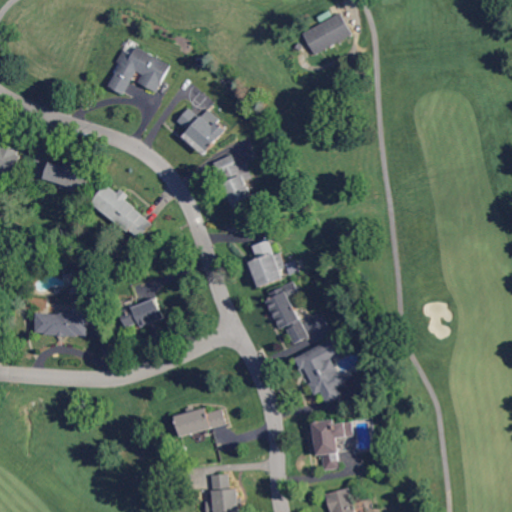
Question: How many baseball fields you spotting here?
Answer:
0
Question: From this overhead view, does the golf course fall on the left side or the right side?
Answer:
right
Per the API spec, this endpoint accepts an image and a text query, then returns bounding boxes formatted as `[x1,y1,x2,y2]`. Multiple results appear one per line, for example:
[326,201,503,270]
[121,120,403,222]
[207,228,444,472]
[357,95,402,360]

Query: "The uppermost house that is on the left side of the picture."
[108,48,170,94]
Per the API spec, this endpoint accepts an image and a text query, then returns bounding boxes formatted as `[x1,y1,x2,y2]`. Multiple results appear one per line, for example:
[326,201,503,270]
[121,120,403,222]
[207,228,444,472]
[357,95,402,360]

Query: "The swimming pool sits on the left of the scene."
[34,278,64,291]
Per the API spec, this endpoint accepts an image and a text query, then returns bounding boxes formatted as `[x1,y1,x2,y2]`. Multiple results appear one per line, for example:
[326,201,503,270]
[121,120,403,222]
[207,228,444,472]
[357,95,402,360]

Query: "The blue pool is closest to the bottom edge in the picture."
[355,423,370,450]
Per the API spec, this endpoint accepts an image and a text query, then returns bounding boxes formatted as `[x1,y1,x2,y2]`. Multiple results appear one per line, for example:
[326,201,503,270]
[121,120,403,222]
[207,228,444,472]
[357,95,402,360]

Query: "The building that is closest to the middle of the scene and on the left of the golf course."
[248,238,286,287]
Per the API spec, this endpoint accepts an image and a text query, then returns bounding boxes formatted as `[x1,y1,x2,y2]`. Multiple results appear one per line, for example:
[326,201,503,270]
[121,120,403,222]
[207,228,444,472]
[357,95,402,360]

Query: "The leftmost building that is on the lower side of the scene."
[33,313,88,337]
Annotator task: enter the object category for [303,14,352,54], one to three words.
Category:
building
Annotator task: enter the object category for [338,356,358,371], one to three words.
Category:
swimming pool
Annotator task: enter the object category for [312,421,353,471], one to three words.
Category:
house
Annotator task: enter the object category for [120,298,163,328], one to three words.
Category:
house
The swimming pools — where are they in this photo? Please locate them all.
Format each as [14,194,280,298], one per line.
[355,423,370,450]
[338,356,358,371]
[34,278,64,291]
